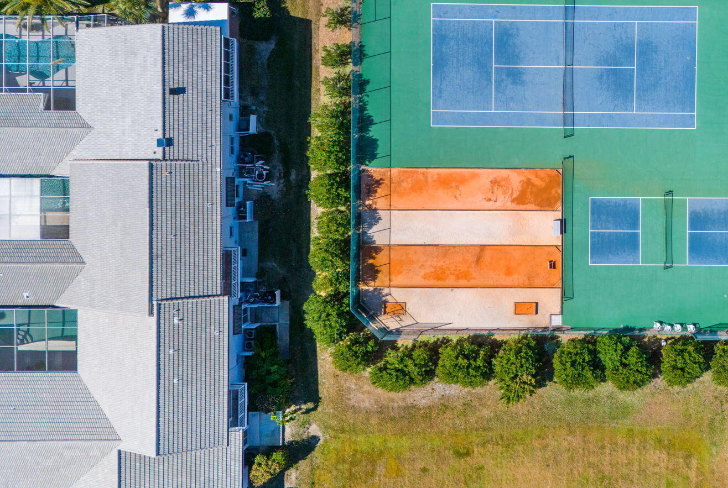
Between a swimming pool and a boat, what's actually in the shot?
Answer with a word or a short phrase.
swimming pool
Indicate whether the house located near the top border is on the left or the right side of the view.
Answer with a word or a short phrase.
left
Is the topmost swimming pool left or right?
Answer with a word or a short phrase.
left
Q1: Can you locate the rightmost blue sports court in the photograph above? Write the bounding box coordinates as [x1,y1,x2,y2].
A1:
[589,197,728,267]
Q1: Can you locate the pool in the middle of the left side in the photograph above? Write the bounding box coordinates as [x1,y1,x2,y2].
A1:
[41,184,69,219]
